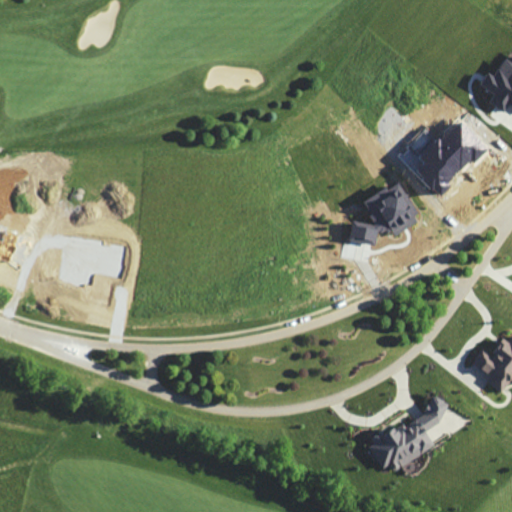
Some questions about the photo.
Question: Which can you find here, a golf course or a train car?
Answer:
golf course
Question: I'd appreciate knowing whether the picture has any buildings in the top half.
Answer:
Yes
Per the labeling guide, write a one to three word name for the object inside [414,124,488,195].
house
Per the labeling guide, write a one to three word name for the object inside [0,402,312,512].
golf course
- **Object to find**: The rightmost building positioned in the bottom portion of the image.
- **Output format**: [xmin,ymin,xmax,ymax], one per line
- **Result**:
[474,332,512,397]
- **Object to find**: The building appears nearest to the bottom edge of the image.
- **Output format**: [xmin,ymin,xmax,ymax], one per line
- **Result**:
[373,392,454,472]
